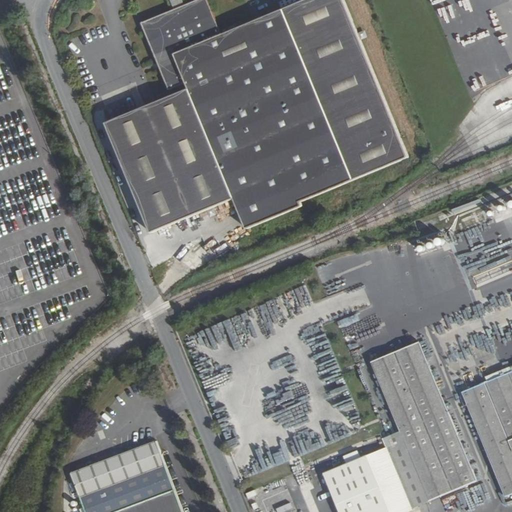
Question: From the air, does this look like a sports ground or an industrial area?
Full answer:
This image shows an industrial area.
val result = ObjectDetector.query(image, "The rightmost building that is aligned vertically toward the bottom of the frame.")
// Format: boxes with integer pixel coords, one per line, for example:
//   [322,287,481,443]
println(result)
[460,370,512,496]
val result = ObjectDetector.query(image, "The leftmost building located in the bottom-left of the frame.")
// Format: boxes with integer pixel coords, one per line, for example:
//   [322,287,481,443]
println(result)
[70,440,183,512]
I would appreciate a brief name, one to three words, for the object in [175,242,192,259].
vehicle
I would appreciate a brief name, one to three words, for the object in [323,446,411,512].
building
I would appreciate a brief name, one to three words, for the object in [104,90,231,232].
warehouse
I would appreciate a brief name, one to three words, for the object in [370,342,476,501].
building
